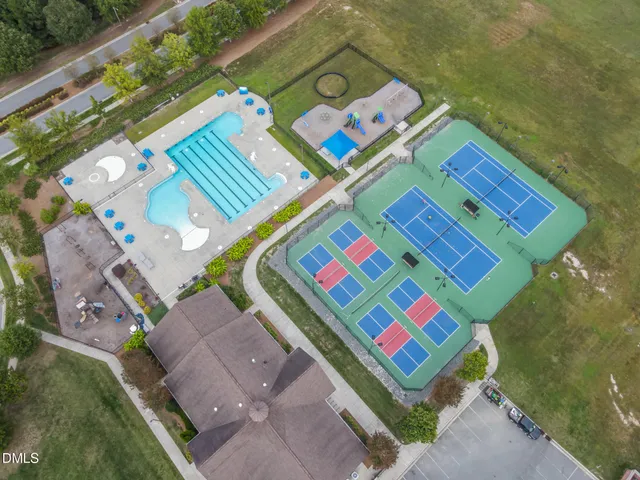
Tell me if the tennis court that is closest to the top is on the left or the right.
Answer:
right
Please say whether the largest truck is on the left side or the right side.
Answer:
right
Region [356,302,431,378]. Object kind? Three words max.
sports court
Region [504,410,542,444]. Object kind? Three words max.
truck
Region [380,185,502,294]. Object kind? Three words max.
tennis court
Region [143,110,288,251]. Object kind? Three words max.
swimming pool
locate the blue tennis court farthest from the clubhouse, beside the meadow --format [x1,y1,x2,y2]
[439,140,558,238]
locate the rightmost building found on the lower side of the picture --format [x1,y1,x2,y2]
[145,285,368,480]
